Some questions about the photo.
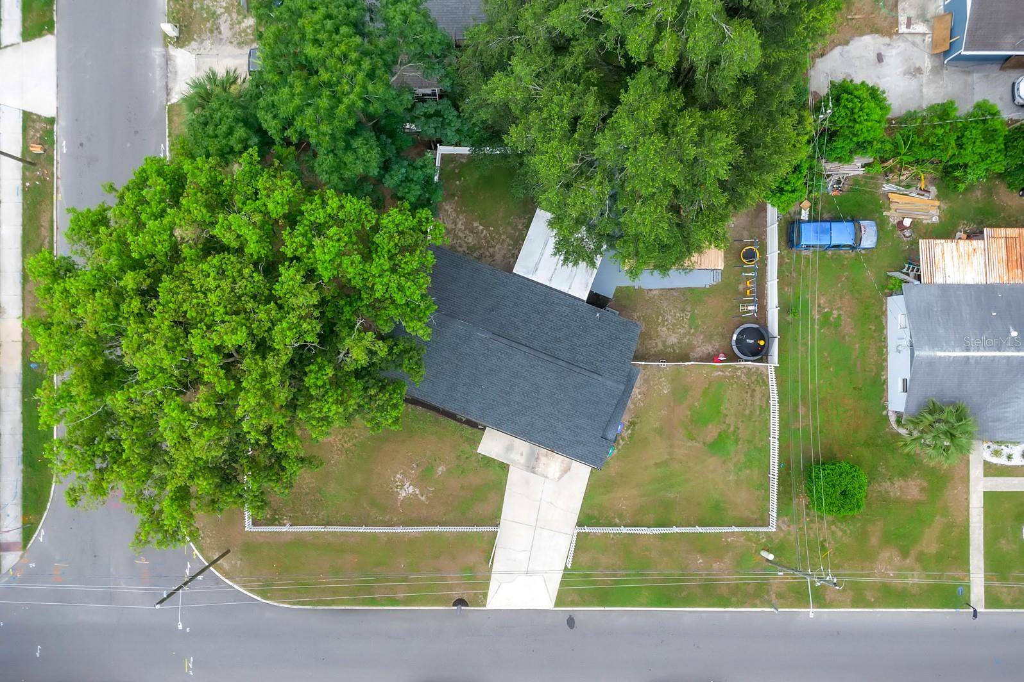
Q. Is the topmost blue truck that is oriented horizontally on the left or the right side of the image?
right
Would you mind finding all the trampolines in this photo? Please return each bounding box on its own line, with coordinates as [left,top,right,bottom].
[740,246,760,265]
[729,321,774,361]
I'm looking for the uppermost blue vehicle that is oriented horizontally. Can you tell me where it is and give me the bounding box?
[786,216,877,252]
